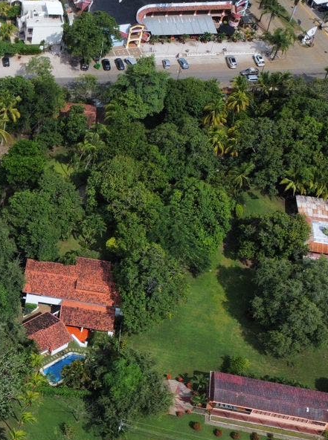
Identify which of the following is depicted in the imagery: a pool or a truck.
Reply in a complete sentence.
The one in the frame is a pool.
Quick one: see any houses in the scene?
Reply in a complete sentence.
Yes, a house can be made out from above.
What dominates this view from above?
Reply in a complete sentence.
For the most part, this view shows trees.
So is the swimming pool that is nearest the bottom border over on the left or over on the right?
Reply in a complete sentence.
The swimming pool that is nearest the bottom border is on the left side of the image.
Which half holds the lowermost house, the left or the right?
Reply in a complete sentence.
The lowermost house appears in the right half of the scene.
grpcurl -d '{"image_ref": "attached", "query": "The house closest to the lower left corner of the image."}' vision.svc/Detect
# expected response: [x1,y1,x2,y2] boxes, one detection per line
[14,252,117,366]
